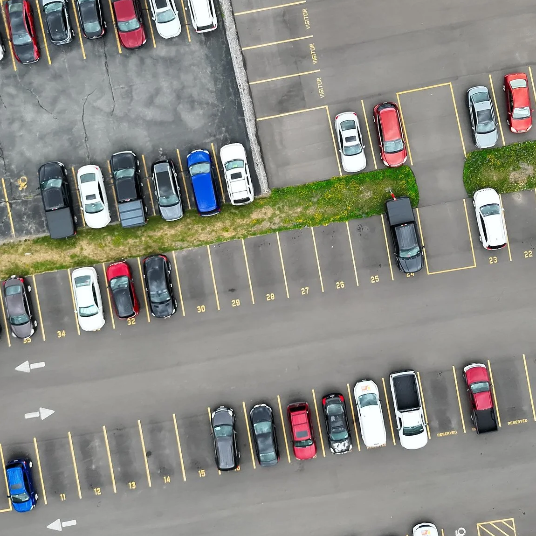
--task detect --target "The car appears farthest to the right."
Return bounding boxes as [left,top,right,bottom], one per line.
[502,72,535,134]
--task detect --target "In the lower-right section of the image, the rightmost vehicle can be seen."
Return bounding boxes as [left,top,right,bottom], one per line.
[463,362,502,438]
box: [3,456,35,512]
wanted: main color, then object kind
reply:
blue car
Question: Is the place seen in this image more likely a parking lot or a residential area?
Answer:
parking lot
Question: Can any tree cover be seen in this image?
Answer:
No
